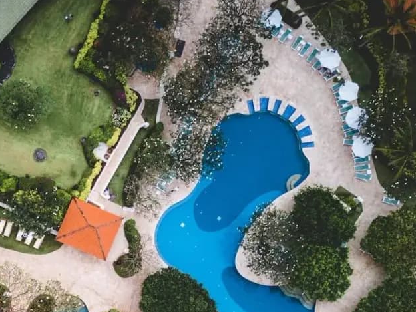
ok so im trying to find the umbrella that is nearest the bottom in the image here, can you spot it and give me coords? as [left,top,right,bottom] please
[352,136,372,156]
